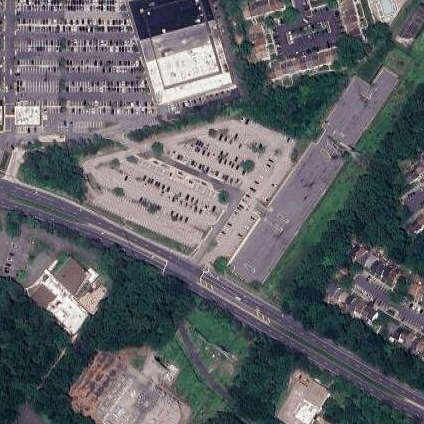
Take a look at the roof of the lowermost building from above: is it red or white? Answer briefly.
white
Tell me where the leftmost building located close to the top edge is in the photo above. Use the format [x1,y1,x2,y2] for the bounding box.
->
[129,0,237,106]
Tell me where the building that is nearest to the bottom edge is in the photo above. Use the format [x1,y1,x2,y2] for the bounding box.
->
[294,398,323,424]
